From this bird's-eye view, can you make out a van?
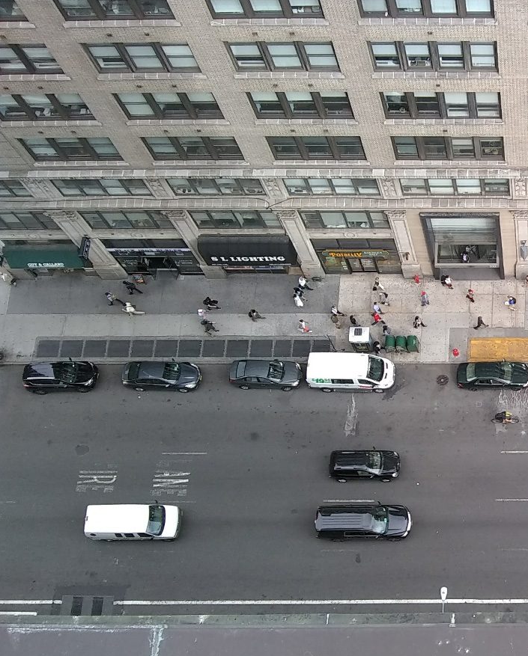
Yes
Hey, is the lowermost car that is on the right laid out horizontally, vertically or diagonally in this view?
horizontally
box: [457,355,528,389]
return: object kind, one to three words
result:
car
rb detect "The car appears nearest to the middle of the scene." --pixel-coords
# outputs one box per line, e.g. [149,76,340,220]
[228,355,304,391]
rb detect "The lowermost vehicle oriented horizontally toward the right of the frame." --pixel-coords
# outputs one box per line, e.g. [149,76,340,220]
[314,498,413,540]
